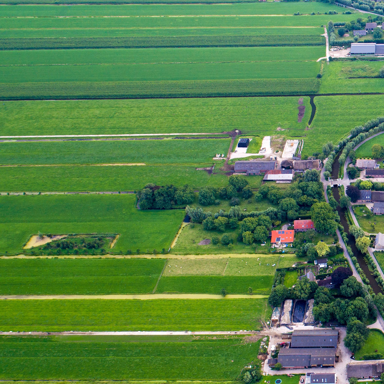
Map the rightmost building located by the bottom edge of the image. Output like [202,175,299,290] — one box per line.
[348,362,384,380]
